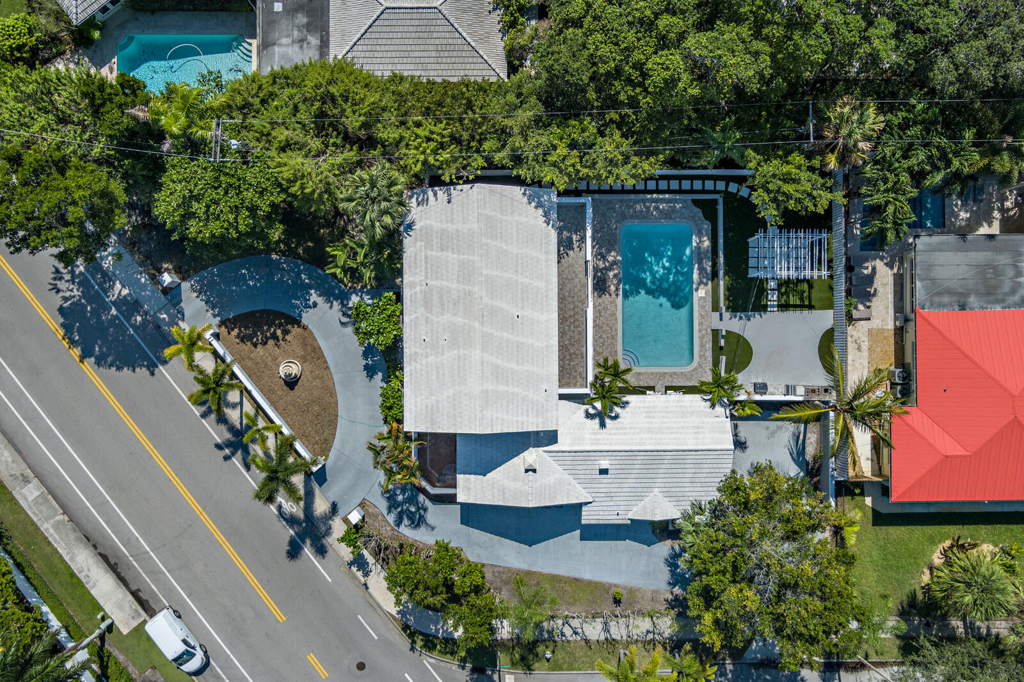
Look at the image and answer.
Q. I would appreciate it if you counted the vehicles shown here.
1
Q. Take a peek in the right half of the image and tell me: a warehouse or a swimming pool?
swimming pool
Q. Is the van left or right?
left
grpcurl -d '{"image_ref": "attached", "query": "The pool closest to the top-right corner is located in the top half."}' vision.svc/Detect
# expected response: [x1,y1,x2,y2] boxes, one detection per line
[902,183,945,228]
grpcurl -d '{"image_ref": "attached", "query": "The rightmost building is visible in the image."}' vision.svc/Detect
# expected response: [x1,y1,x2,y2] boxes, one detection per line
[881,230,1024,503]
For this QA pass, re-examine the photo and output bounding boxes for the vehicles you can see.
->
[145,605,208,674]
